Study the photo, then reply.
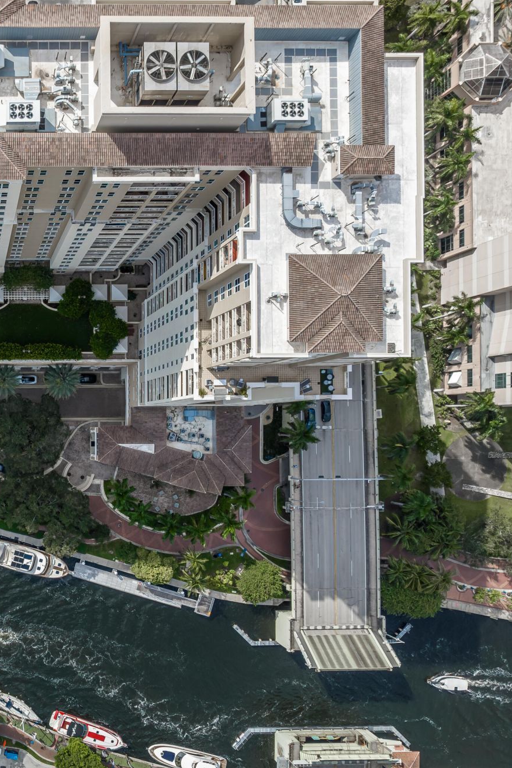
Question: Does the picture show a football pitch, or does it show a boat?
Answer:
boat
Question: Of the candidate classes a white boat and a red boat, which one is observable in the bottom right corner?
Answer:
white boat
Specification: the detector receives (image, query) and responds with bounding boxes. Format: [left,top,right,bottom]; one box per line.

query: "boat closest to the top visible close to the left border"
[0,542,71,579]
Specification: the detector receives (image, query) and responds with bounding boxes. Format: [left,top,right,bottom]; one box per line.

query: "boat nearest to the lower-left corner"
[0,692,42,735]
